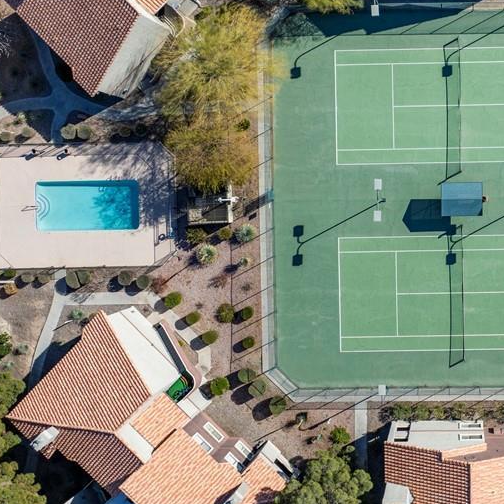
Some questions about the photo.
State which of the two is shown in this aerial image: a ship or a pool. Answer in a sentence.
I can see a pool in this picture.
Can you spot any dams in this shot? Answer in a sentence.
No, there isn't any dam down there.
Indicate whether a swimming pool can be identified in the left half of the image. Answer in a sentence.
Yes, the scene does show a swimming pool in the left half of the image.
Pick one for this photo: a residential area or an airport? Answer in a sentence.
The picture captures a residential area.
